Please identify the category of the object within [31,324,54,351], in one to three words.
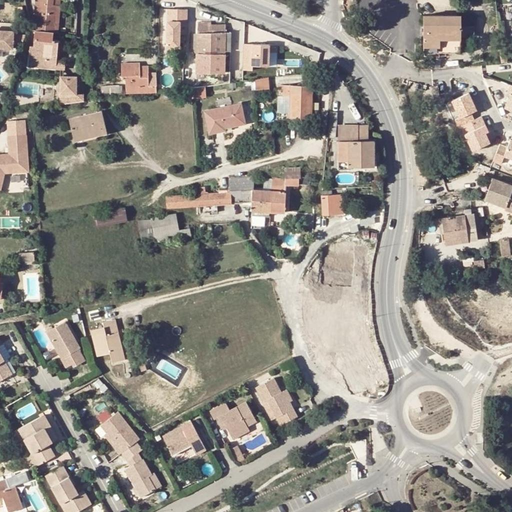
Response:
swimming pool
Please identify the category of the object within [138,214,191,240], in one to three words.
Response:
shed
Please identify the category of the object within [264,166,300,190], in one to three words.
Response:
house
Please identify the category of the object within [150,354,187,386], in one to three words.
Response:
swimming pool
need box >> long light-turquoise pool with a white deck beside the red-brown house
[25,481,51,512]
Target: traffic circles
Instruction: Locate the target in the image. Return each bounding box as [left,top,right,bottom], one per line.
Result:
[388,370,474,456]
